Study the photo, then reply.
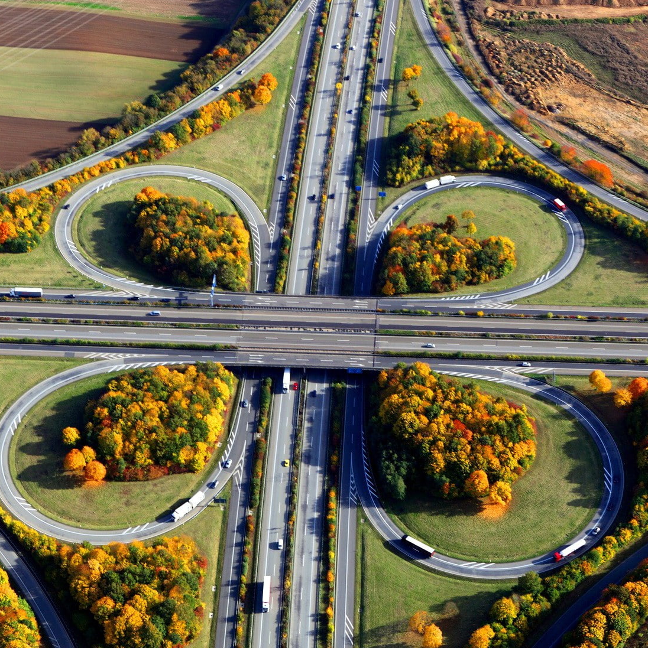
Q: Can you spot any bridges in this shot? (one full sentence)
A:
Yes, looking at the shot, I can spot a bridge.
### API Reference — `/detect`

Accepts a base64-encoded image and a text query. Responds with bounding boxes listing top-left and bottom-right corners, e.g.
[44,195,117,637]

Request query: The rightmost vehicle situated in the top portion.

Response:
[554,197,567,212]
